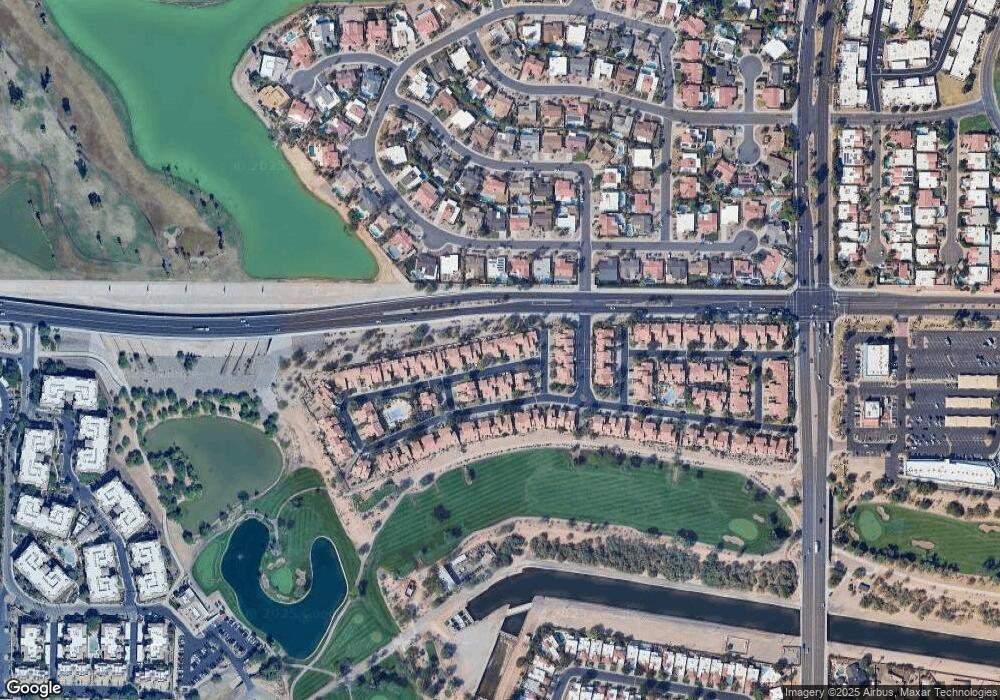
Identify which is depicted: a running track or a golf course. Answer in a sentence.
The image shows a golf course.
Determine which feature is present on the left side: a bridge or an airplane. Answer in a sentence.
What appears on the left side is a bridge.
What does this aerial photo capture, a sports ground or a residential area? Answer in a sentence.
This image shows a residential area.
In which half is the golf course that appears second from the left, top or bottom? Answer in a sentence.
The bottom half of the photo is where the golf course that appears second from the left is.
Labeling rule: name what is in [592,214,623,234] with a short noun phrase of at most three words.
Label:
house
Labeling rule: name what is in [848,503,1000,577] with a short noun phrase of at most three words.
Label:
golf course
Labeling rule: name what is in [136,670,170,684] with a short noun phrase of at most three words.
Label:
building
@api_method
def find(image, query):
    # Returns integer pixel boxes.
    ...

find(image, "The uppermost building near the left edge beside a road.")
[38,375,98,411]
